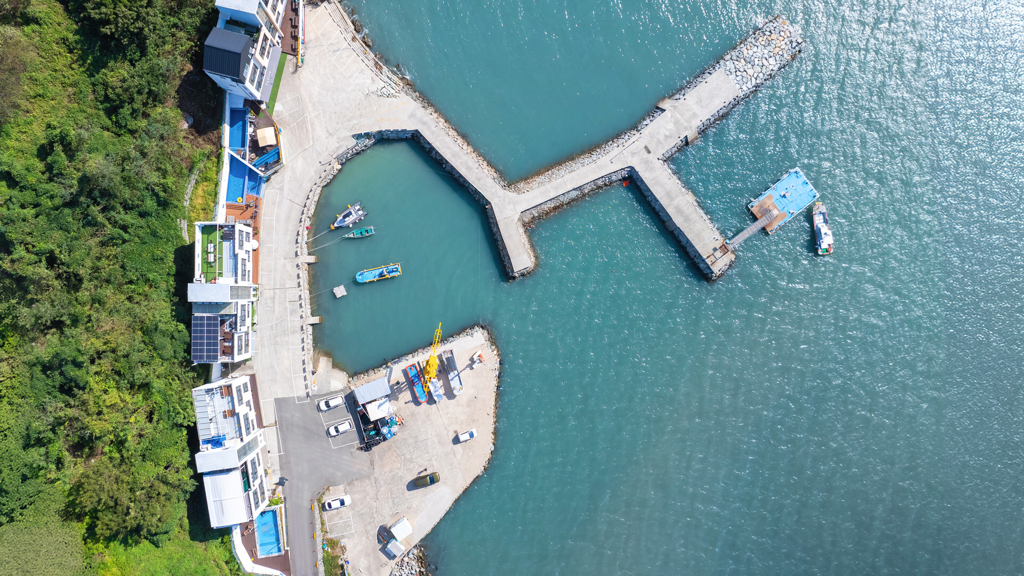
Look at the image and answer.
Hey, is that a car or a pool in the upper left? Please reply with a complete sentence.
The feature located in the upper left is a pool.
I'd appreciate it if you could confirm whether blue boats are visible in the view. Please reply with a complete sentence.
Yes, I can see a blue boat in this picture.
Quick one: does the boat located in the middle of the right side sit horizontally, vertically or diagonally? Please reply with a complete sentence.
The boat located in the middle of the right side is laid out vertically.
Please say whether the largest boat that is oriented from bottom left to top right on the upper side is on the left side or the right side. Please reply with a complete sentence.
It is on the left.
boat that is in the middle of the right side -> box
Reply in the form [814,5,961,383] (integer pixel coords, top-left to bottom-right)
[810,203,833,254]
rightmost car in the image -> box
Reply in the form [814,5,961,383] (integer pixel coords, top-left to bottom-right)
[458,428,478,442]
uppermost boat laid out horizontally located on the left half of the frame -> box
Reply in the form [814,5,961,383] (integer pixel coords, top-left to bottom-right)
[343,225,376,238]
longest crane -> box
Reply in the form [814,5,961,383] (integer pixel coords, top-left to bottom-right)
[422,323,444,392]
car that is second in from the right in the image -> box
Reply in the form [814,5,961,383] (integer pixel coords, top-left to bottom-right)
[414,472,440,488]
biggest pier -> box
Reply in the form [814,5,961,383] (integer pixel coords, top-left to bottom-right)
[401,14,806,283]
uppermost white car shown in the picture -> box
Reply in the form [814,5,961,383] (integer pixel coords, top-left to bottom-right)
[317,393,345,412]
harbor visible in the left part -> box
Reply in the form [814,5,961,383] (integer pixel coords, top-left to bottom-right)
[297,130,501,576]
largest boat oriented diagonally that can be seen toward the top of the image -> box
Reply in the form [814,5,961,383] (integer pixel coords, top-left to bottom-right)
[331,198,372,229]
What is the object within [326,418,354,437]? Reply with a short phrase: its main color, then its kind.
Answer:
white car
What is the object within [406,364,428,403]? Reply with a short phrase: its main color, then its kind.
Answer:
blue boat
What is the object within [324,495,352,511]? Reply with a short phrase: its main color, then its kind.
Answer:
white car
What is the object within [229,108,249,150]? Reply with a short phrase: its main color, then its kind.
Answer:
blue swimming pool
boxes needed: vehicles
[458,428,478,442]
[414,472,440,488]
[317,393,345,412]
[324,495,352,511]
[326,418,354,437]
